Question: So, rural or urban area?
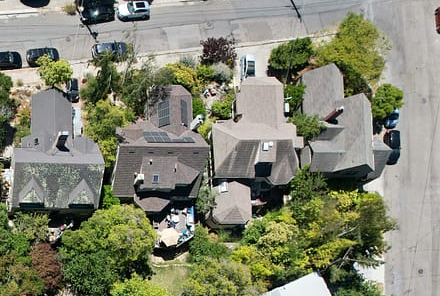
urban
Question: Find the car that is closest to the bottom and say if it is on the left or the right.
right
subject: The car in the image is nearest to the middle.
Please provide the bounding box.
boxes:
[238,52,257,85]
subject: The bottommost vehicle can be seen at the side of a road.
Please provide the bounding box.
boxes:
[379,128,401,164]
